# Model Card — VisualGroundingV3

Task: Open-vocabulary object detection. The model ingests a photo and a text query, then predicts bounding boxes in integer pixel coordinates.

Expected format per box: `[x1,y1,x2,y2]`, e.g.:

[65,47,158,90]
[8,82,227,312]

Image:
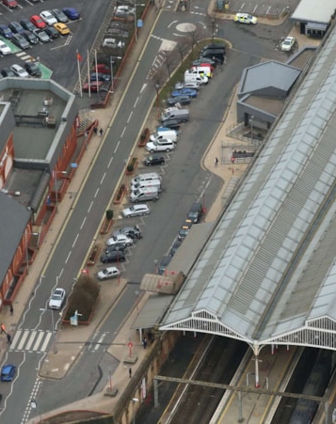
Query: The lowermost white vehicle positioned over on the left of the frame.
[48,289,64,308]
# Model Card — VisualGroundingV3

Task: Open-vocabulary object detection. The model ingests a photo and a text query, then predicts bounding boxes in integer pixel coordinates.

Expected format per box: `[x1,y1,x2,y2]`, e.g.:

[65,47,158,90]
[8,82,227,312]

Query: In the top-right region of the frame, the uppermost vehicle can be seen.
[232,11,259,25]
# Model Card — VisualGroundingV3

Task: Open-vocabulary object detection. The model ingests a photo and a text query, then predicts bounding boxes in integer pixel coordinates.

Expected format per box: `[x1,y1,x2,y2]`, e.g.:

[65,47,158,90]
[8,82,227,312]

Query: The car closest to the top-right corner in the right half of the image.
[282,36,294,50]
